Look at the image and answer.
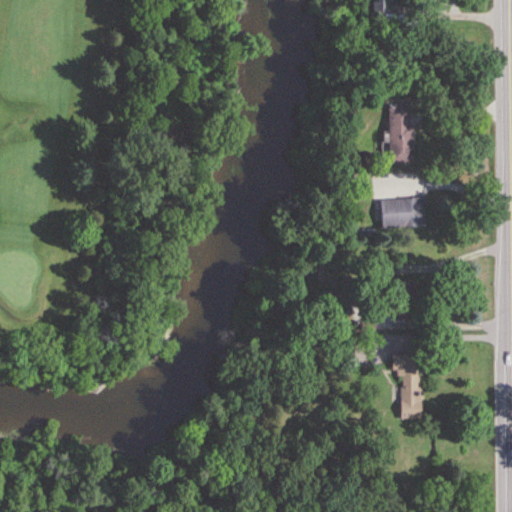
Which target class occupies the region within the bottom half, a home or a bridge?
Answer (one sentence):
You can see a home within the bottom half.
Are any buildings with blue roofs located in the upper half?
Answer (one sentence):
No, looking in the upper half, there is no building with a blue roof.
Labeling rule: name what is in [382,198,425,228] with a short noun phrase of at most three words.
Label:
building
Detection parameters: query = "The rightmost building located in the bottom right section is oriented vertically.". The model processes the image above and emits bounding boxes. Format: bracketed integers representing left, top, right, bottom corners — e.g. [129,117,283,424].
[394,352,426,420]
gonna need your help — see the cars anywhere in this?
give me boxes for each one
[373,354,380,364]
[506,354,512,366]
